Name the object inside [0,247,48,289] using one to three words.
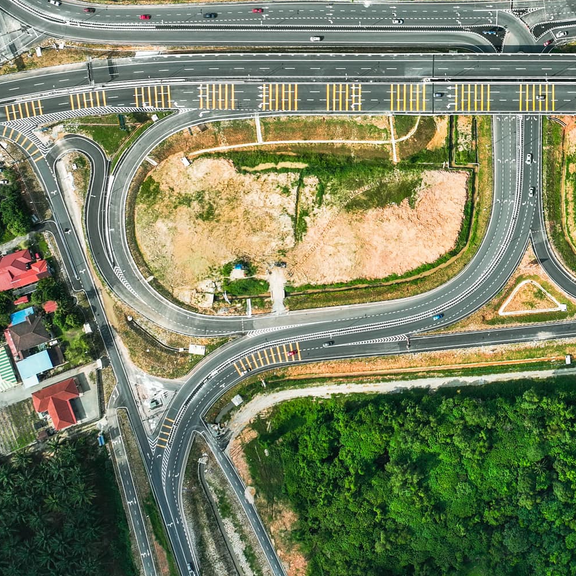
house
